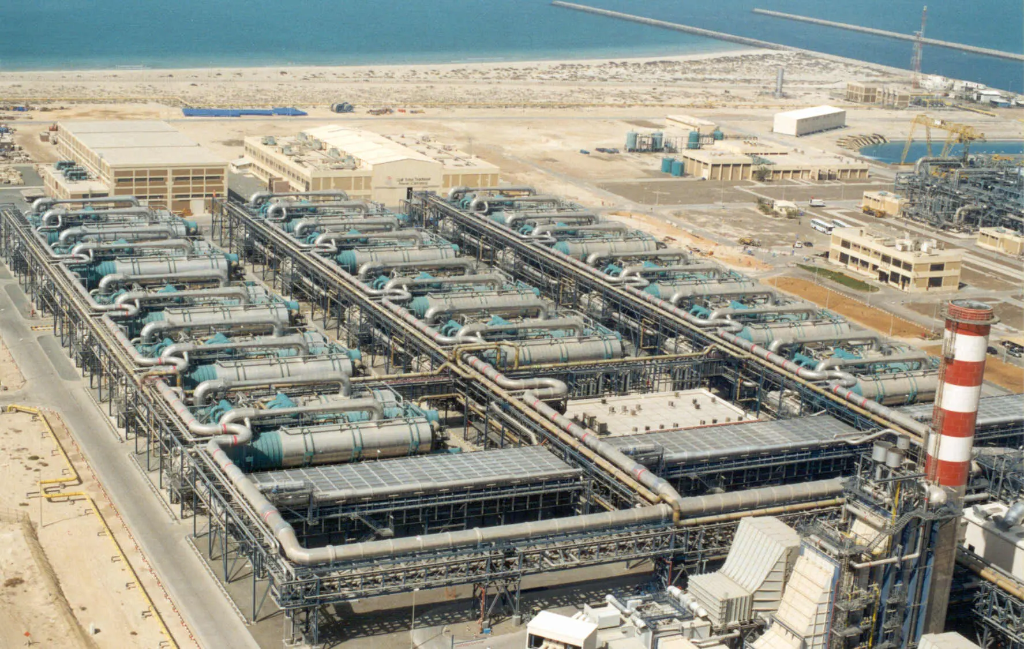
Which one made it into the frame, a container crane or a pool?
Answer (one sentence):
Looking from above, you can make out a container crane.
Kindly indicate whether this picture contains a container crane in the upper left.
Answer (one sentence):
No, looking in the upper left, there is no container crane.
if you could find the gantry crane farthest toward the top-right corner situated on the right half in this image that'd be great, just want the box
[901,111,988,163]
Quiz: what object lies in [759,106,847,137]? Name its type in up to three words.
shed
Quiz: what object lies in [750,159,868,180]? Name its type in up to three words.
building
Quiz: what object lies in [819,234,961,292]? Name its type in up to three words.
building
